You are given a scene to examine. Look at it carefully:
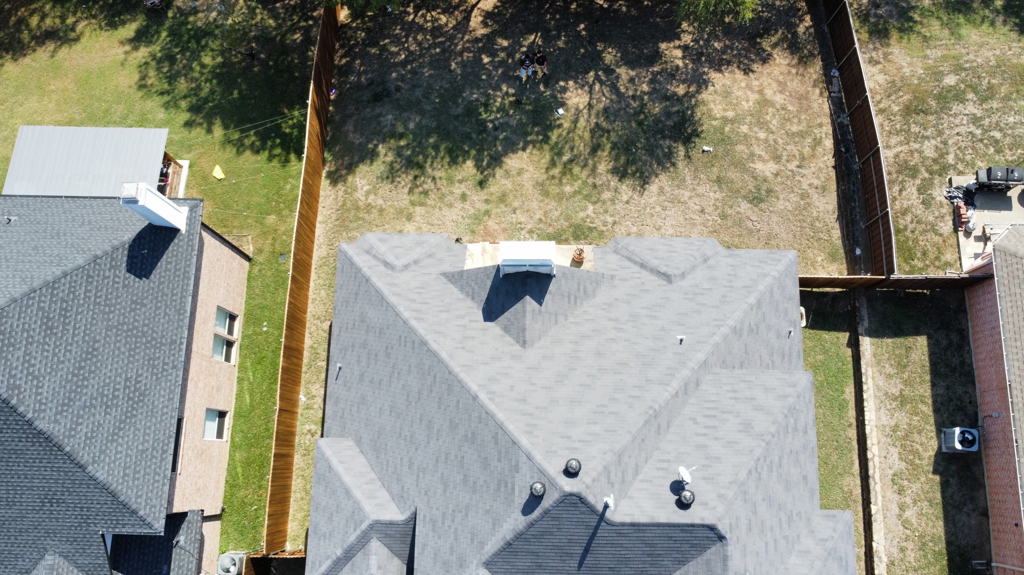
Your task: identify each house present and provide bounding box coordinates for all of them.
[306,230,857,575]
[963,221,1024,575]
[0,180,253,575]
